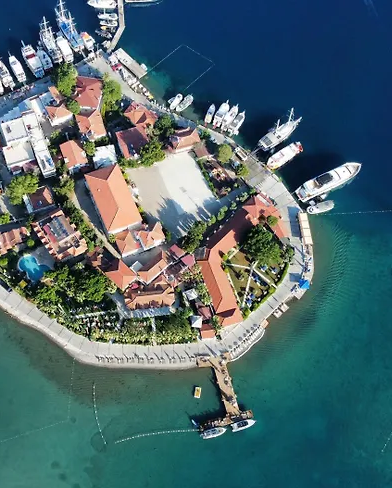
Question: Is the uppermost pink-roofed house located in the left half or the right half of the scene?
left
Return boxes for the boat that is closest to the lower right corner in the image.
[230,418,257,431]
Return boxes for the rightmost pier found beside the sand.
[196,353,253,431]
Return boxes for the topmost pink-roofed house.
[75,76,102,111]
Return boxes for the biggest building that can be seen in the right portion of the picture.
[199,194,291,329]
